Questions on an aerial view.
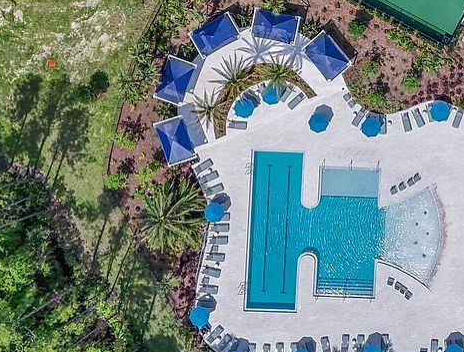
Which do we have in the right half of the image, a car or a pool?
pool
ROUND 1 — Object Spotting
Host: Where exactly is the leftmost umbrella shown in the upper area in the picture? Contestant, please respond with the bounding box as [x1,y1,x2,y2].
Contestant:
[234,97,256,117]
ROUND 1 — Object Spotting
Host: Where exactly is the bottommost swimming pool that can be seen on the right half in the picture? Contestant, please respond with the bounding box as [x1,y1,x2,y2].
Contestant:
[237,150,446,312]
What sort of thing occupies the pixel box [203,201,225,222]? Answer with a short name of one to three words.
umbrella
